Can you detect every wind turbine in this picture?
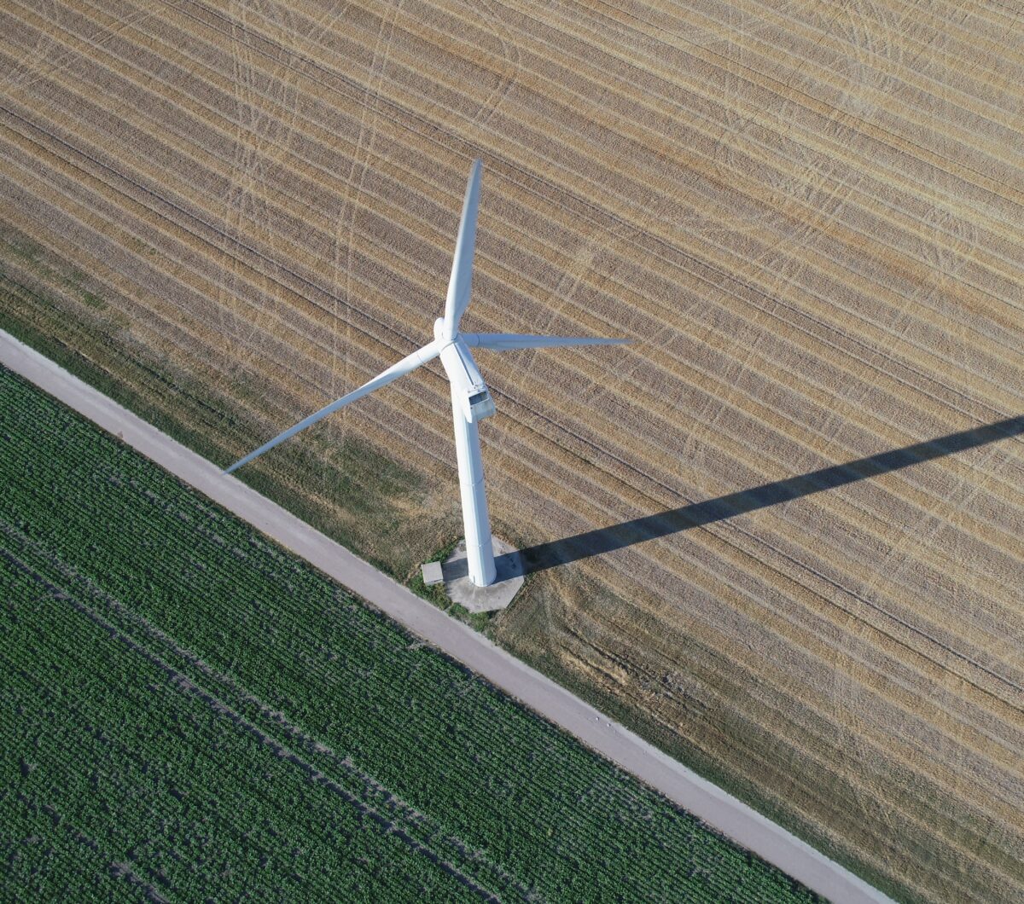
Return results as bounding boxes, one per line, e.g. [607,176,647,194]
[226,160,632,588]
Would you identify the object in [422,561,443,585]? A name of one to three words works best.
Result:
building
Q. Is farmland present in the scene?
Yes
